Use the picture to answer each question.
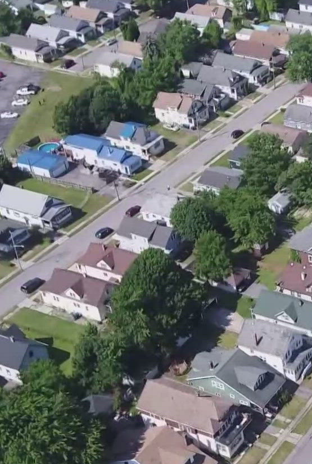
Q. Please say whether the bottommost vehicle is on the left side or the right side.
left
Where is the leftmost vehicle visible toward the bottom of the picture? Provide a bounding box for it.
[19,274,45,295]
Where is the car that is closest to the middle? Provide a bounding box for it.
[122,201,143,218]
